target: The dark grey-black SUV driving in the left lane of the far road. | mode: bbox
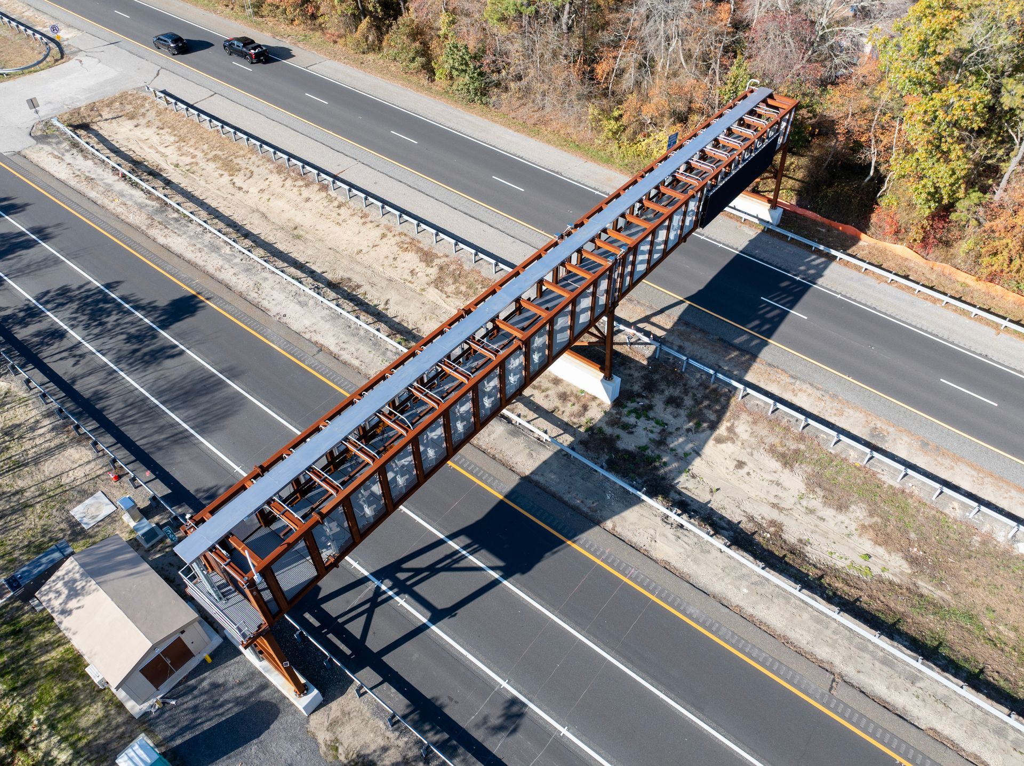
[152,29,190,54]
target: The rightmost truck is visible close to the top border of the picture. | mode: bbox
[220,34,270,63]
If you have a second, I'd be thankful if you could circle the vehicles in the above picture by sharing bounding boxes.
[152,29,190,54]
[220,34,270,63]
